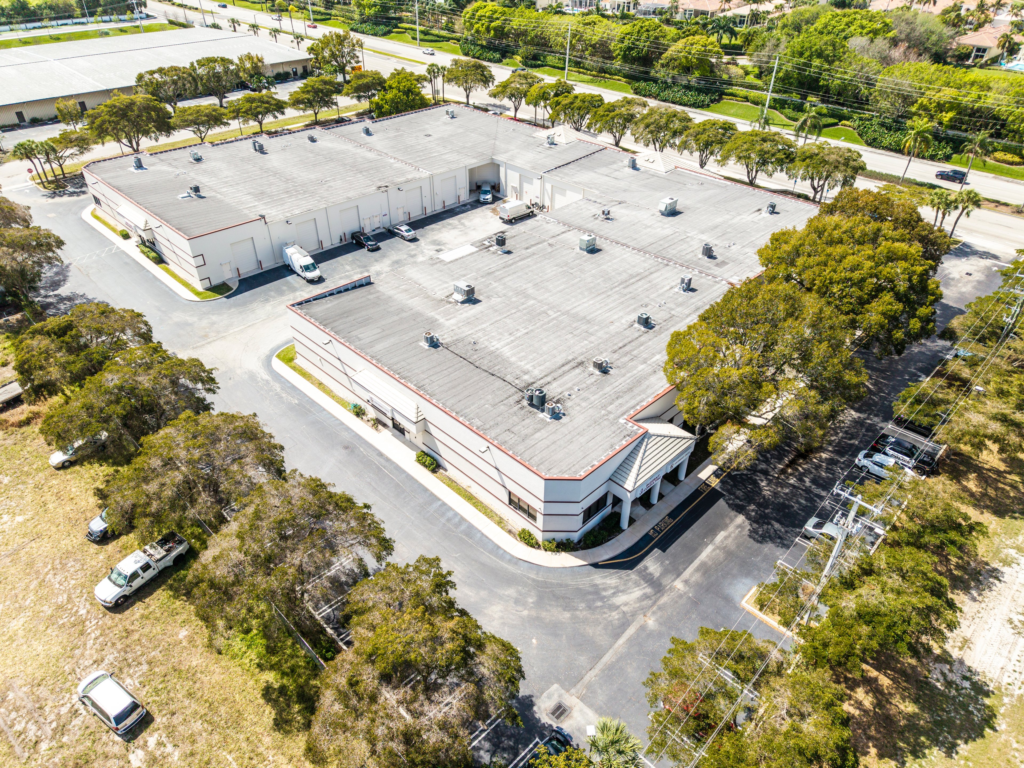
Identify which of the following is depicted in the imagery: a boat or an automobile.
automobile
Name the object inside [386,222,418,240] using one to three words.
car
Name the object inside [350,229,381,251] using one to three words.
car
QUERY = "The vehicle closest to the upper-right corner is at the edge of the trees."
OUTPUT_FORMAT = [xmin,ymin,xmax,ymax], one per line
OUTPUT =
[933,168,971,183]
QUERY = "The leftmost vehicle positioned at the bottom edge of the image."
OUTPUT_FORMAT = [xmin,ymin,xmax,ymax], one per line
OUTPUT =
[76,669,154,736]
